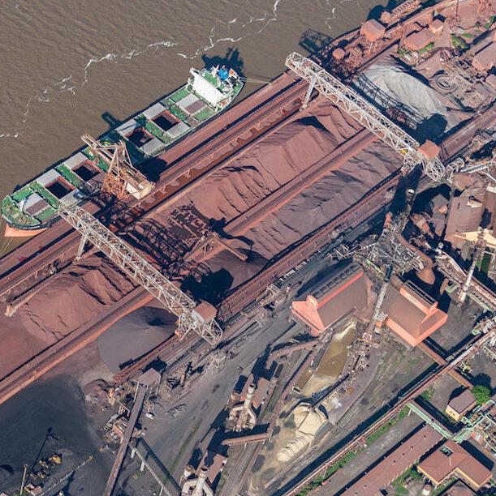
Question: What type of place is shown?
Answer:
port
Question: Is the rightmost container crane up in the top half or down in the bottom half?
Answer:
top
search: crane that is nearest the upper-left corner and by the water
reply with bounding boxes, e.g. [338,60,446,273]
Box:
[77,133,151,204]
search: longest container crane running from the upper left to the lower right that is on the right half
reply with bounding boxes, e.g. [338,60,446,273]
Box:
[282,52,445,193]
